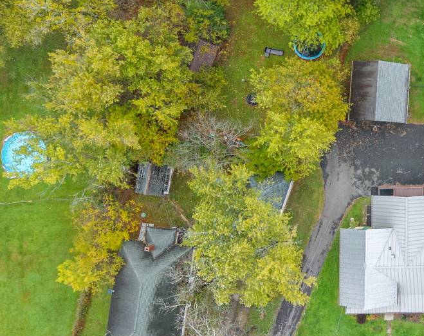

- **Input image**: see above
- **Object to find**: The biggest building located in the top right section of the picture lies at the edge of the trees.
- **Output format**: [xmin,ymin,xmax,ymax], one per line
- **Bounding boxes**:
[349,59,412,124]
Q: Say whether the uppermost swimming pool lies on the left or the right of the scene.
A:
left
